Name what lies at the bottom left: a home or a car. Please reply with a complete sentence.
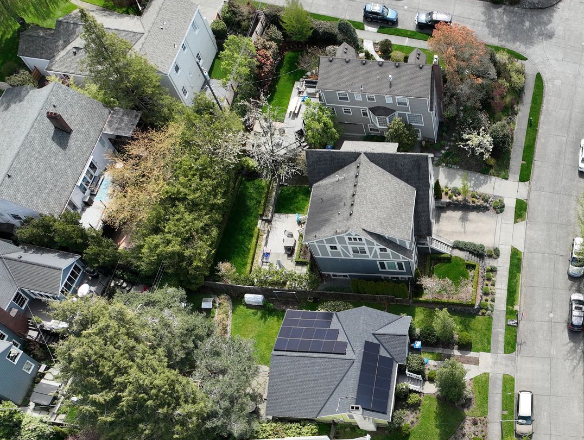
Looking at the bottom left, you will find a home.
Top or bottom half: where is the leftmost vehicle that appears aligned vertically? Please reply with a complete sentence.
The leftmost vehicle that appears aligned vertically sits in the bottom half of the picture.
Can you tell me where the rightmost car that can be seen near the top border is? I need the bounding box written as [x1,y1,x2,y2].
[416,8,451,29]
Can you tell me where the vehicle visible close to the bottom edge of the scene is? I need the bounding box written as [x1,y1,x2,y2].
[513,390,535,438]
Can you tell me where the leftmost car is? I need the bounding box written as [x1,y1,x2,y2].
[362,4,399,25]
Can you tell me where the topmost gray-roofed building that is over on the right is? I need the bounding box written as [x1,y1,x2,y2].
[317,42,446,138]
